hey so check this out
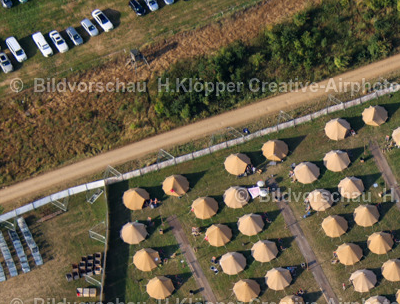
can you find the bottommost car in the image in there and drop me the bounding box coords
[0,52,13,74]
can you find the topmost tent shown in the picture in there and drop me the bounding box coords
[361,104,391,126]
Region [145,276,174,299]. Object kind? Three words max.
tent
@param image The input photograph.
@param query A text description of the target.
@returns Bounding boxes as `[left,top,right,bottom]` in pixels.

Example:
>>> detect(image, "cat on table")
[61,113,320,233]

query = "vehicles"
[33,31,51,56]
[7,34,26,59]
[94,9,111,31]
[163,0,175,6]
[50,31,67,53]
[0,52,13,74]
[129,0,146,18]
[145,0,161,13]
[82,18,97,37]
[0,0,13,10]
[66,27,83,47]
